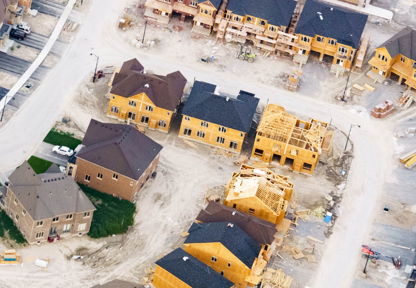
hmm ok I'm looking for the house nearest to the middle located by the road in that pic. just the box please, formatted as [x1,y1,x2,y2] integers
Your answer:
[180,77,260,153]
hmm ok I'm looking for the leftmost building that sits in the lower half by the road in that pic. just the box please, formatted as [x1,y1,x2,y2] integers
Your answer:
[4,160,95,242]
